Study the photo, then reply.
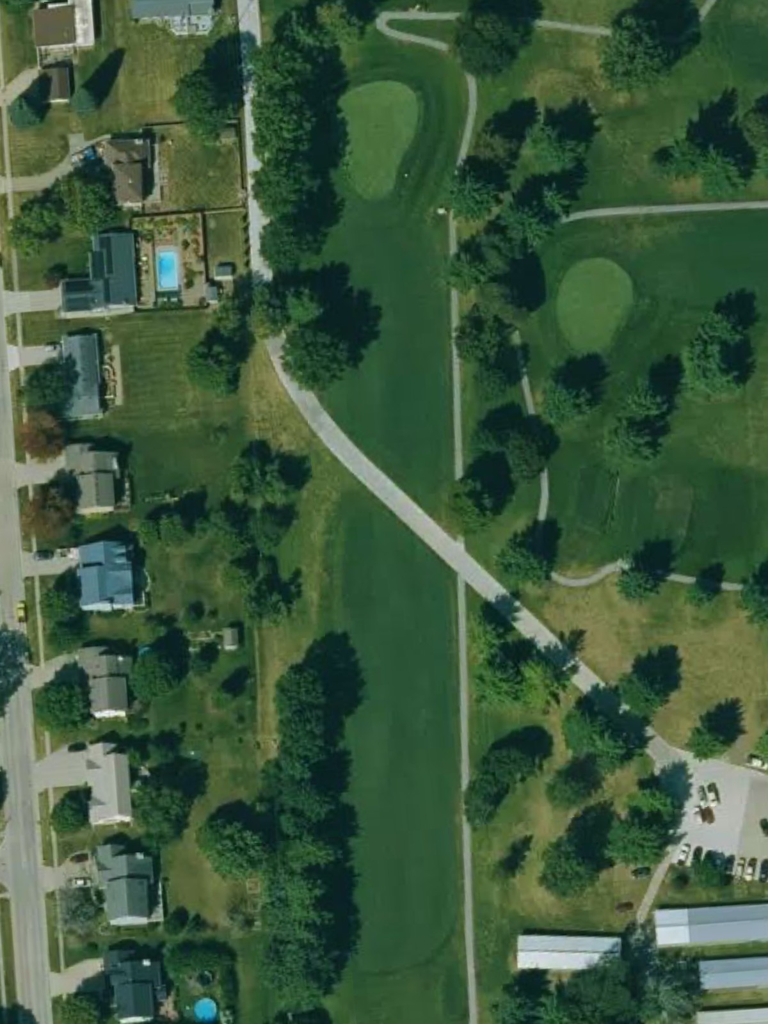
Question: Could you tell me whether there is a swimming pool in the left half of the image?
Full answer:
Yes, looking in the left half of the image, one can make out a swimming pool.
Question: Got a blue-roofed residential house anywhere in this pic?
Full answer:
Yes, a blue-roofed residential house can be made out from above.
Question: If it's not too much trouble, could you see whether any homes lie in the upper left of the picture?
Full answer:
Yes, there is a home in the upper left of the picture.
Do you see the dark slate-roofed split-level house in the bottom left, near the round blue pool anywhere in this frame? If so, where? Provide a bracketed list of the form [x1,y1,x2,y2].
[104,949,167,1021]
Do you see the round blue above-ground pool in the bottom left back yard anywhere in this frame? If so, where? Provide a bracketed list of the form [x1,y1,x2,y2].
[193,997,217,1021]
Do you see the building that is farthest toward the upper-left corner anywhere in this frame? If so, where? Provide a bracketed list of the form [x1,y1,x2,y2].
[34,0,94,49]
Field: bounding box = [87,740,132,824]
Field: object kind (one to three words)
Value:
house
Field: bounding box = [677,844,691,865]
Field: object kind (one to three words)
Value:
car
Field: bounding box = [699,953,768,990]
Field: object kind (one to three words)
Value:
building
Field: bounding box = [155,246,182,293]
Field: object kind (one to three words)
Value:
swimming pool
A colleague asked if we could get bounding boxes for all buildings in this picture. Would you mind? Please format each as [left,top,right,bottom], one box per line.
[87,740,132,824]
[517,934,621,971]
[131,0,213,36]
[96,843,164,923]
[216,263,232,279]
[77,644,132,716]
[221,124,236,140]
[654,900,768,946]
[34,0,94,49]
[107,138,151,210]
[49,65,70,104]
[66,442,130,514]
[62,230,137,316]
[224,627,238,650]
[699,953,768,990]
[78,540,147,610]
[208,285,218,304]
[63,332,101,420]
[104,949,167,1021]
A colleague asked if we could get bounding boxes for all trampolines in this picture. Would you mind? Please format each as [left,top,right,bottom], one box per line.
[197,968,214,985]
